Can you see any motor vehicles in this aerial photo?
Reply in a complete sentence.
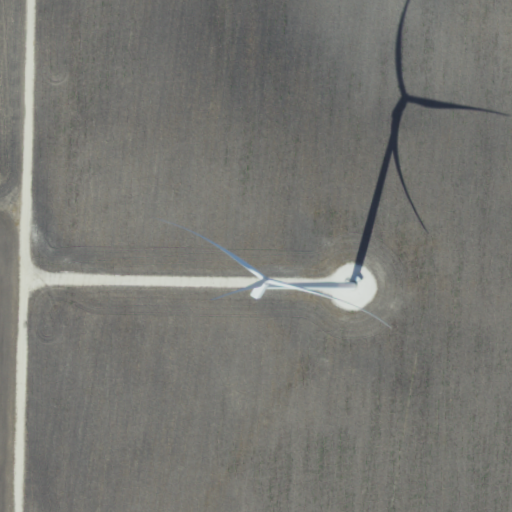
No, this view has no motor vehicle in it.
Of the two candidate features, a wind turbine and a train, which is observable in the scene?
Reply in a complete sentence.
Of the two, only a wind turbine appears.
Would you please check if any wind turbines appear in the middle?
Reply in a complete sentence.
Yes, you'll find a wind turbine in the middle.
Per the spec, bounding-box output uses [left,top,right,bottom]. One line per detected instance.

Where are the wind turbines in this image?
[160,218,393,326]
